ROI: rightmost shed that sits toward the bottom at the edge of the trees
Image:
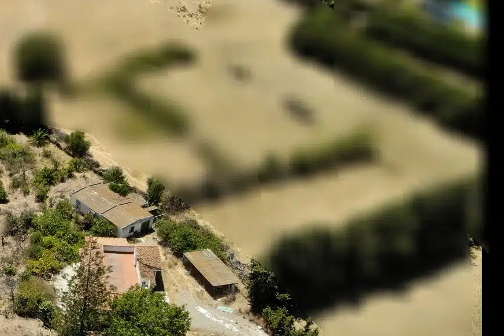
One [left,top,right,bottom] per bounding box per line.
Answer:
[181,247,241,302]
